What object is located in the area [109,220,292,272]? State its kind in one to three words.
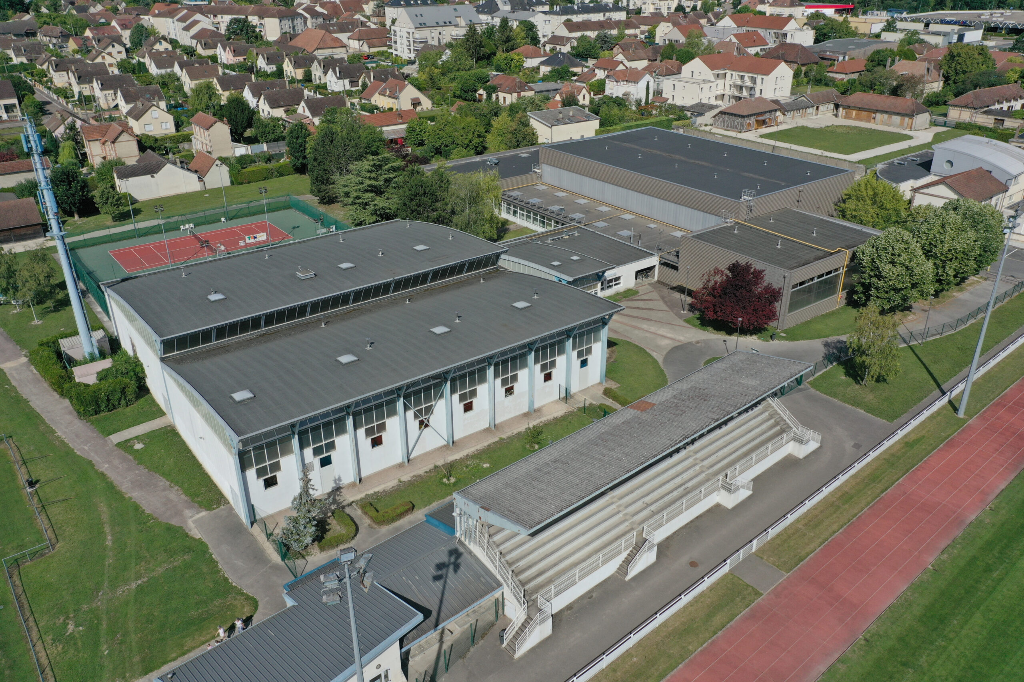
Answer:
tennis court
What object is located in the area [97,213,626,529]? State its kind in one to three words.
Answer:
building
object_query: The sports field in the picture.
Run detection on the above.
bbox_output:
[813,471,1024,682]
